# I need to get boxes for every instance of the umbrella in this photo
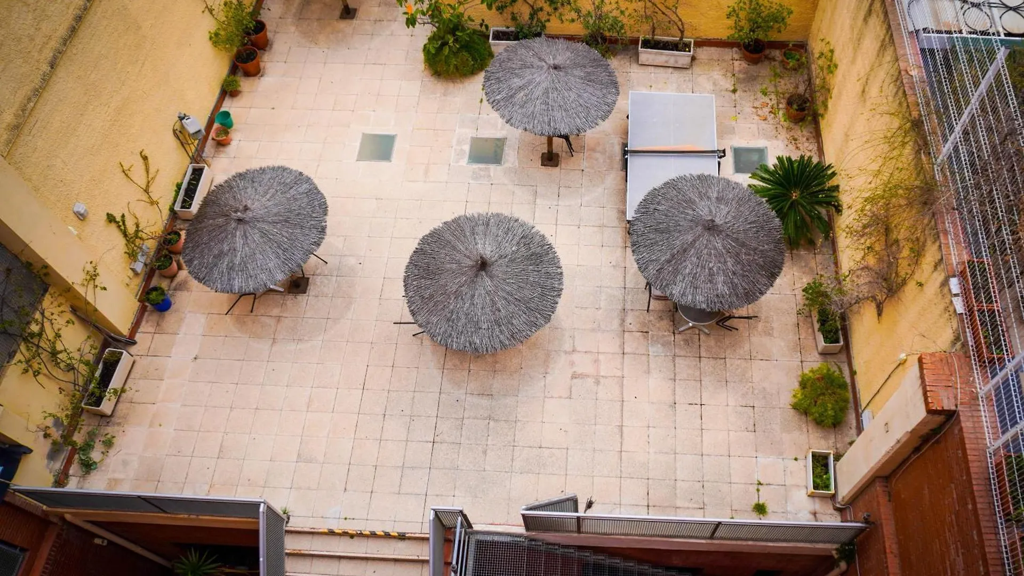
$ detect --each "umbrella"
[623,181,785,319]
[487,38,626,166]
[405,214,568,356]
[338,0,356,18]
[175,172,328,293]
